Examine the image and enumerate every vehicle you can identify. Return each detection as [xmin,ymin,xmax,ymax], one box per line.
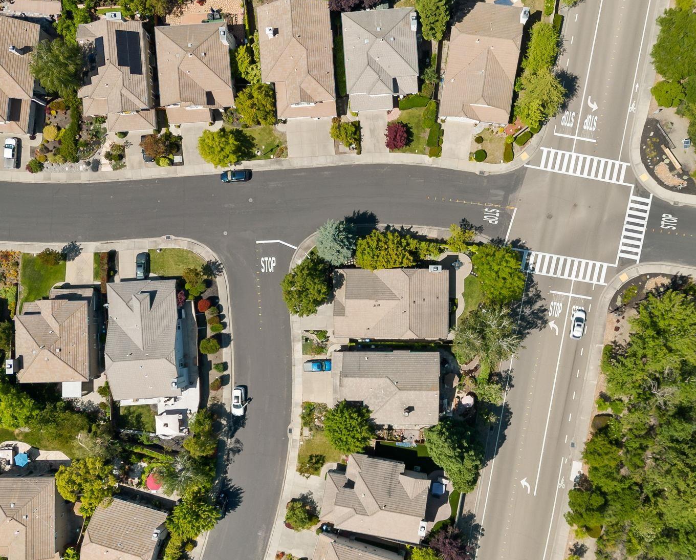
[569,308,588,341]
[231,384,252,416]
[134,250,151,281]
[302,358,332,374]
[140,134,157,166]
[3,136,21,173]
[221,169,254,184]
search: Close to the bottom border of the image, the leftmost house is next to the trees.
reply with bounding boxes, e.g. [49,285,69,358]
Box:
[0,472,69,560]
